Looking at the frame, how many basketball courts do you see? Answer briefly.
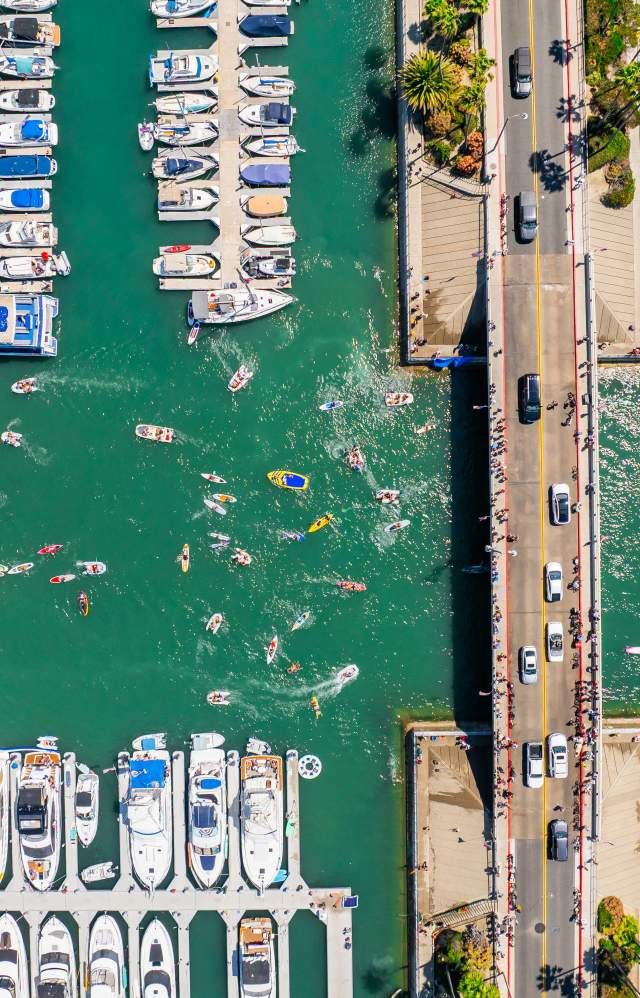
0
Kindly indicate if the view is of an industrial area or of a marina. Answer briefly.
marina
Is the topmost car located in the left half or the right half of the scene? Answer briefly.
right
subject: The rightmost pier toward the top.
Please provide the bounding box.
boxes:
[157,0,292,293]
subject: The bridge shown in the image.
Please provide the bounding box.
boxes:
[486,247,603,843]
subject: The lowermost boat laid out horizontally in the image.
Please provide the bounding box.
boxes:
[80,861,117,880]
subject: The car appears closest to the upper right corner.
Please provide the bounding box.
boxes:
[509,48,532,97]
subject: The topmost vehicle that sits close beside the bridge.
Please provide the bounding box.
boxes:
[515,192,538,245]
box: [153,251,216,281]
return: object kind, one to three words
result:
boat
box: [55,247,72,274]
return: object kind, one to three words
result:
boat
